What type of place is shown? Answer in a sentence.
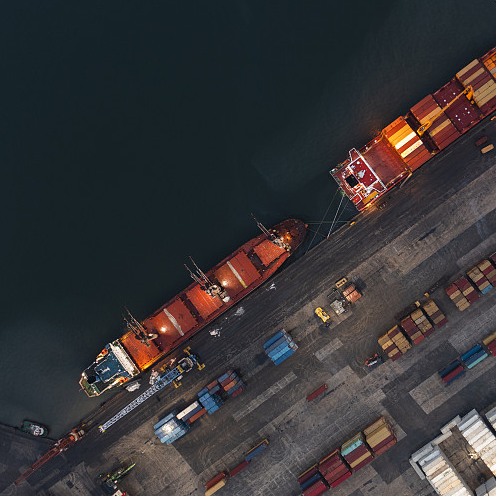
This looks like a port.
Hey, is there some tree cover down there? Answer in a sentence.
No, the picture contains no tree cover.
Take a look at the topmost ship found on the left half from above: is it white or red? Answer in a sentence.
From above, the topmost ship found on the left half appears red.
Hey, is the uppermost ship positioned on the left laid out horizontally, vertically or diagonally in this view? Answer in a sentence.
In this picture, the uppermost ship positioned on the left lies diagonally.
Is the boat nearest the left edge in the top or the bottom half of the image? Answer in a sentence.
The bottom half of the photo is where the boat nearest the left edge is.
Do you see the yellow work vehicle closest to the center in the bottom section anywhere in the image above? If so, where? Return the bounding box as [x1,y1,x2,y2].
[315,304,335,329]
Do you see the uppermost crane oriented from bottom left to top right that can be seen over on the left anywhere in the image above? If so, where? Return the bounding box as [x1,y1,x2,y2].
[97,341,209,434]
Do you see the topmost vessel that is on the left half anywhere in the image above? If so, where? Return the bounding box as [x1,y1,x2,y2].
[77,213,307,398]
